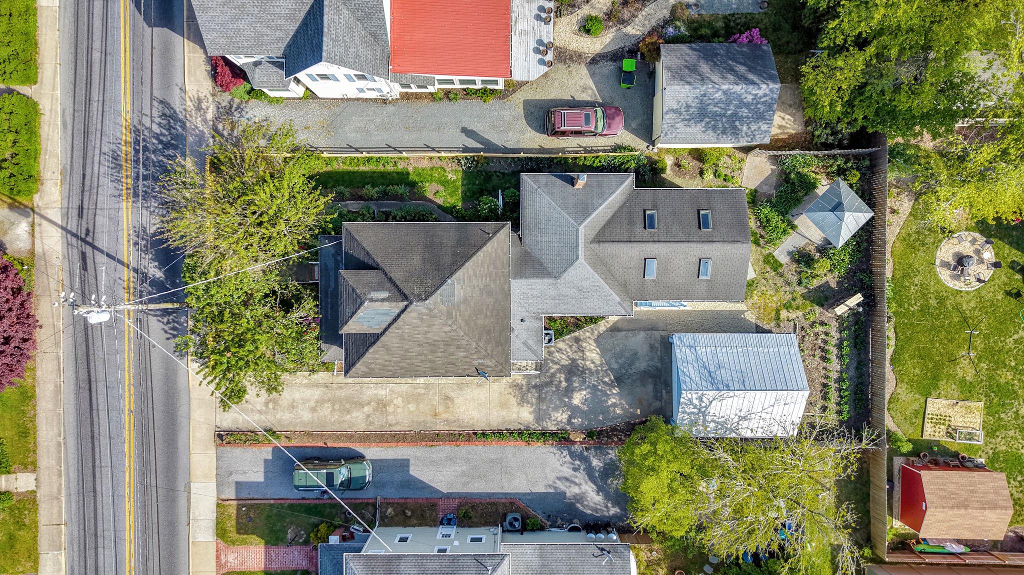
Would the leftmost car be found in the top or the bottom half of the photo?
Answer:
bottom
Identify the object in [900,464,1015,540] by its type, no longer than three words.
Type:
shed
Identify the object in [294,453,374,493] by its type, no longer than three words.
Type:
car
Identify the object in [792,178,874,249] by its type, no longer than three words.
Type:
gazebo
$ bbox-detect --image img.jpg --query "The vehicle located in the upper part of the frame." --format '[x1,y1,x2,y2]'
[544,103,624,141]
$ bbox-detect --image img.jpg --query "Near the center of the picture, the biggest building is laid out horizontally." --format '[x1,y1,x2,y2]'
[311,171,750,379]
